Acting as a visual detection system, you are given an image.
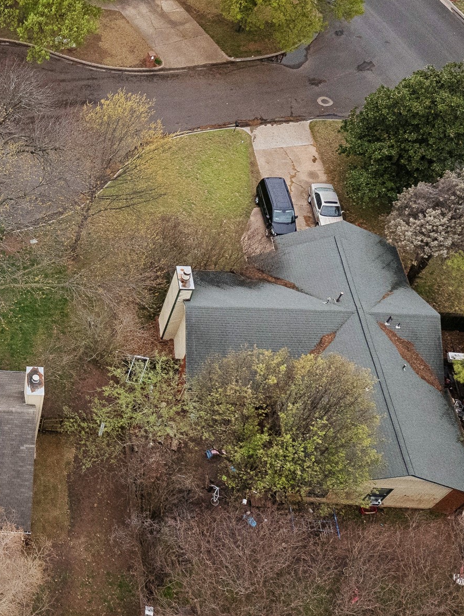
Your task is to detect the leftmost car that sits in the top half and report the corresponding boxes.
[257,173,301,236]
